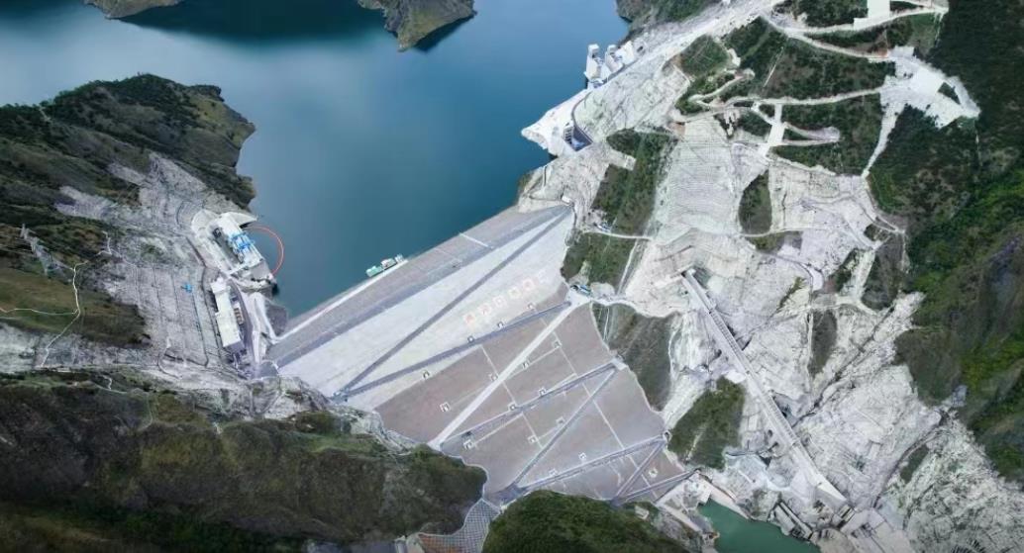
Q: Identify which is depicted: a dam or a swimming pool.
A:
dam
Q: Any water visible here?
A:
Yes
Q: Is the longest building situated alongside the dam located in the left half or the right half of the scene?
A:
left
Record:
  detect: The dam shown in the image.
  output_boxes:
[260,200,695,517]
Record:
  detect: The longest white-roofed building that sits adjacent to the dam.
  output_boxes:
[214,283,245,356]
